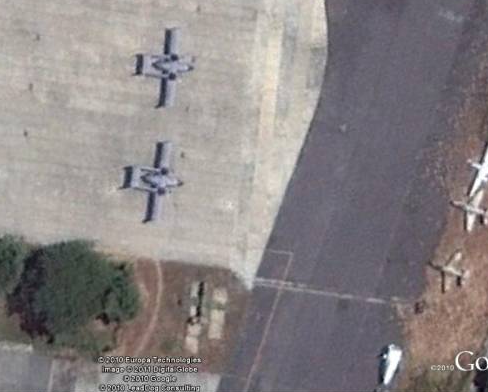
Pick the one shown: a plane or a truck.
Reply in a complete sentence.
It is a plane that can be seen here.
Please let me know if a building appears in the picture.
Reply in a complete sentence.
No, no building can be seen from above.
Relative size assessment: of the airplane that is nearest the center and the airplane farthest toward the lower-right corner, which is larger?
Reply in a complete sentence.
It is the airplane that is nearest the center that is larger, not the airplane farthest toward the lower-right corner.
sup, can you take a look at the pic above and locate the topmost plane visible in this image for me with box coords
[141,29,194,106]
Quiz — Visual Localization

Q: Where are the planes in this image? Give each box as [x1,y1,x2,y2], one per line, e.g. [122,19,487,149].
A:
[467,144,488,198]
[428,251,469,291]
[130,142,185,221]
[450,189,488,233]
[141,29,194,106]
